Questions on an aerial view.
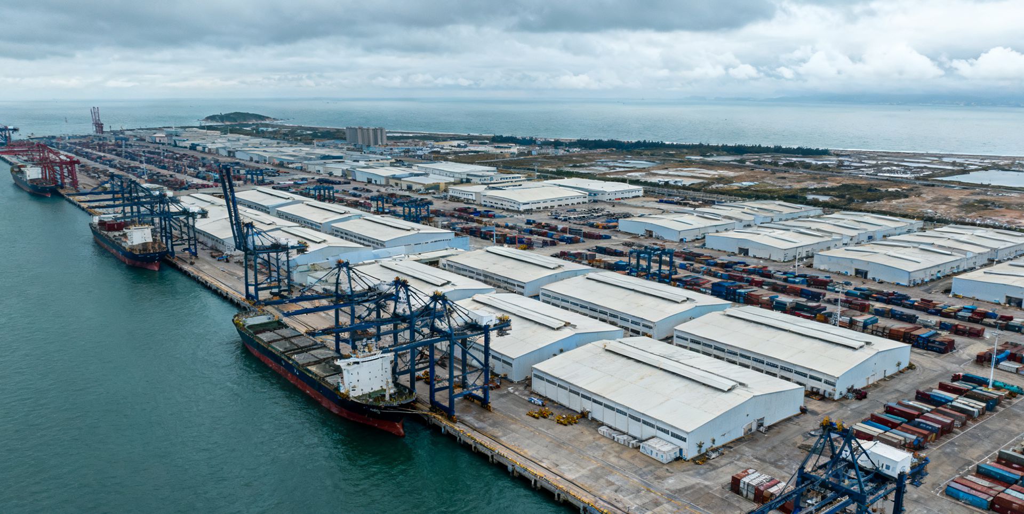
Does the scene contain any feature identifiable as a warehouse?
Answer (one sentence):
Yes, a warehouse appears in the view.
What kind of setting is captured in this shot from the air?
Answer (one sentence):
It's a port.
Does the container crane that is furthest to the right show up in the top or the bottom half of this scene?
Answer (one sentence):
The container crane that is furthest to the right is in the bottom half of the image.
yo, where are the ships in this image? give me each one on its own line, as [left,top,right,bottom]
[235,306,426,436]
[86,217,170,270]
[11,164,54,194]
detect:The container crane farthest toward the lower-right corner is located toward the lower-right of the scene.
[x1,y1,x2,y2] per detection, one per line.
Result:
[749,418,924,514]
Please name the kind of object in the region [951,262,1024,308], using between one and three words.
building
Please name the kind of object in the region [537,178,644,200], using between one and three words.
building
